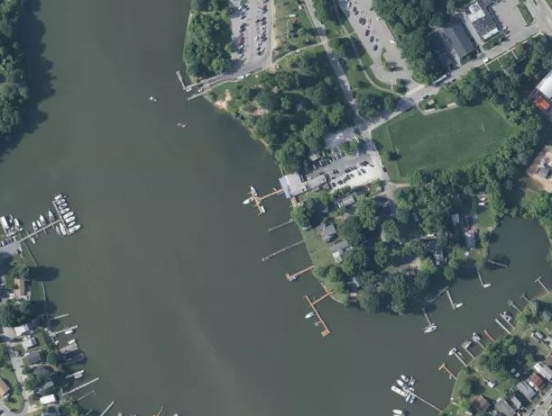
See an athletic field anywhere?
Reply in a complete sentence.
Yes, an athletic field is visible in the scene.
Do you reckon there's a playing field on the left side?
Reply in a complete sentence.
No, I see no playing field on the left side.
